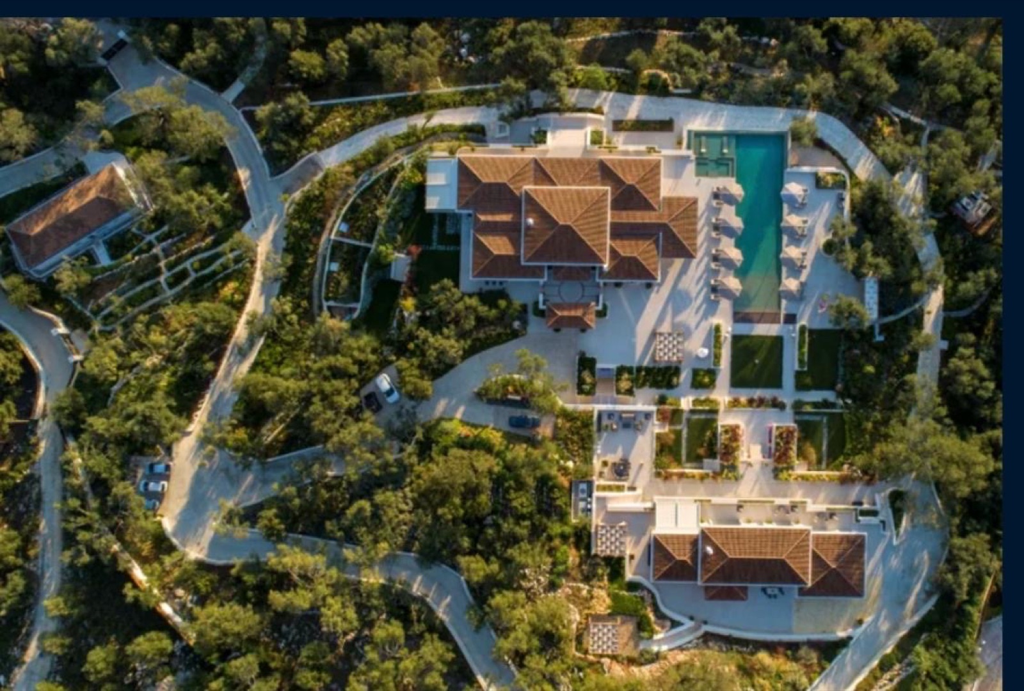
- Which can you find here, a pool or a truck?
pool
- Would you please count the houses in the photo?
3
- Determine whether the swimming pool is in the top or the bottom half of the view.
top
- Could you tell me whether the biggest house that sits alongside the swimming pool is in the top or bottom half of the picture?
top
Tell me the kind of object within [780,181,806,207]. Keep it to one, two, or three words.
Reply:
umbrella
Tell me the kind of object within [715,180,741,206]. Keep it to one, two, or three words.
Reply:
umbrella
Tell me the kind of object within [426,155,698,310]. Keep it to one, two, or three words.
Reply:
house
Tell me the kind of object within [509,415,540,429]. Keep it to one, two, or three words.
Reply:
car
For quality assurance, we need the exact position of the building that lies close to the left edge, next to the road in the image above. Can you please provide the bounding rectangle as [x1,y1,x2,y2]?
[5,159,168,287]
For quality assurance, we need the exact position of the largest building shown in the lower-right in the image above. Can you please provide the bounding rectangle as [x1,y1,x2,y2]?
[652,498,866,601]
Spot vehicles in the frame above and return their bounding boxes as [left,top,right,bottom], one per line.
[147,462,174,475]
[143,481,168,492]
[374,372,400,402]
[361,389,379,412]
[509,415,540,429]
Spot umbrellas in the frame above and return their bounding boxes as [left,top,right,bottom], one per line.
[715,212,741,238]
[714,275,740,301]
[715,180,741,206]
[779,275,805,301]
[715,244,740,270]
[780,181,806,207]
[779,244,805,270]
[779,212,806,237]
[697,346,709,358]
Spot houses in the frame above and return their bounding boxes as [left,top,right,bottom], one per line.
[652,498,866,601]
[5,159,168,287]
[426,155,698,310]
